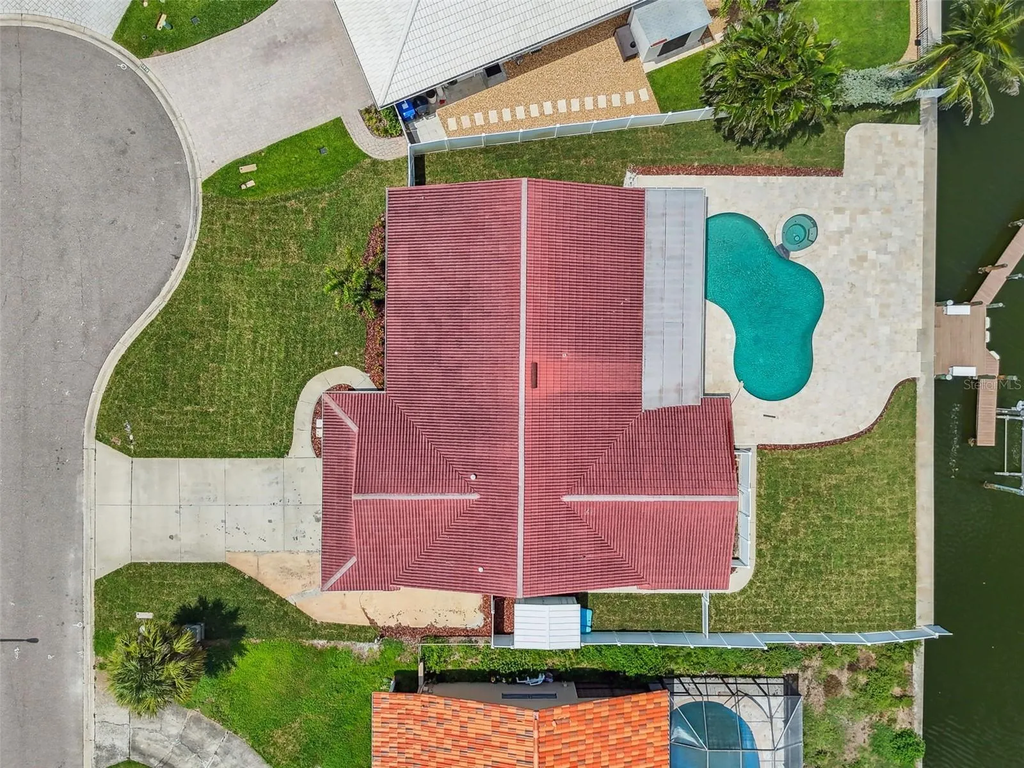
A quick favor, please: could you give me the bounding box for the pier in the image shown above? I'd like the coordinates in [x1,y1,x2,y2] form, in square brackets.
[934,213,1024,446]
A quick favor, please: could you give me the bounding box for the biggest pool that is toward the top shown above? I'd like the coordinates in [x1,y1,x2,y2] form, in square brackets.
[709,208,828,404]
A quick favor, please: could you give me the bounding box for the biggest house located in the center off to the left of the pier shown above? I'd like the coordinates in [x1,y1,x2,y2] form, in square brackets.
[317,175,740,599]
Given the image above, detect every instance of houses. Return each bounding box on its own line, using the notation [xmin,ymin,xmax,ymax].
[317,175,740,599]
[370,682,673,768]
[337,0,659,111]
